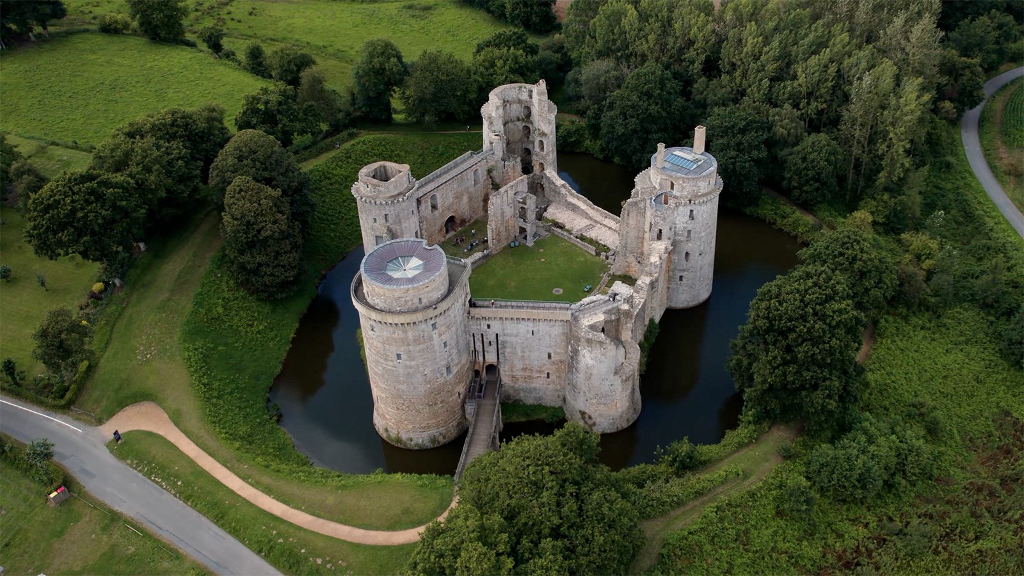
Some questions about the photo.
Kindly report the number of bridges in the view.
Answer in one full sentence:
Just 1 bridge appears in this view.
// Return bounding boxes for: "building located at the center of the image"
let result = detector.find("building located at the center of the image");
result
[348,84,722,450]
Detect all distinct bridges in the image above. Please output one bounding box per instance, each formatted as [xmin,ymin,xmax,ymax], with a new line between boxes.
[454,371,502,485]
